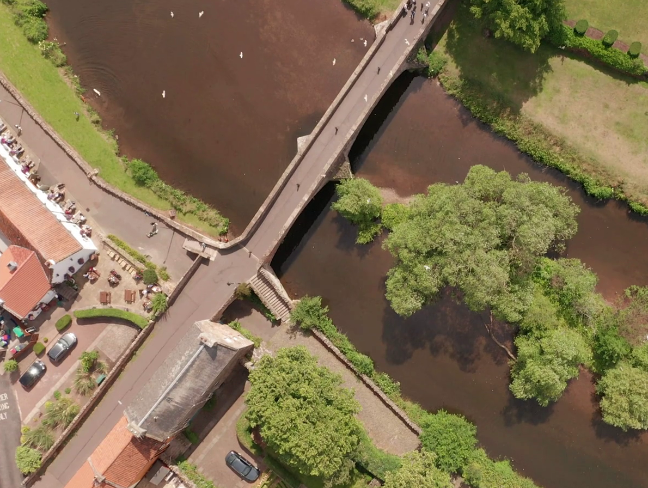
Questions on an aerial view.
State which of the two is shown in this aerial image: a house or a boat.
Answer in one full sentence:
This aerial view contains a house.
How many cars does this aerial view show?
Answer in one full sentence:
The picture shows 3 cars.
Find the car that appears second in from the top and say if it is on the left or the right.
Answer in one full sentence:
It is on the left.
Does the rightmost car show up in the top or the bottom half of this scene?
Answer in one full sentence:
Seen from above, the rightmost car lies in the bottom half of the view.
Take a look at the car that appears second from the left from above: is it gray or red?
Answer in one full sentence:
From above, the car that appears second from the left appears gray.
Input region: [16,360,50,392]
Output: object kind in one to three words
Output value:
car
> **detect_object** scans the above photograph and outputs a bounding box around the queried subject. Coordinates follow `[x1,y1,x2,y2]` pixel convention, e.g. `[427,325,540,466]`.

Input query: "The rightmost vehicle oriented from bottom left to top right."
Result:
[46,329,81,365]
